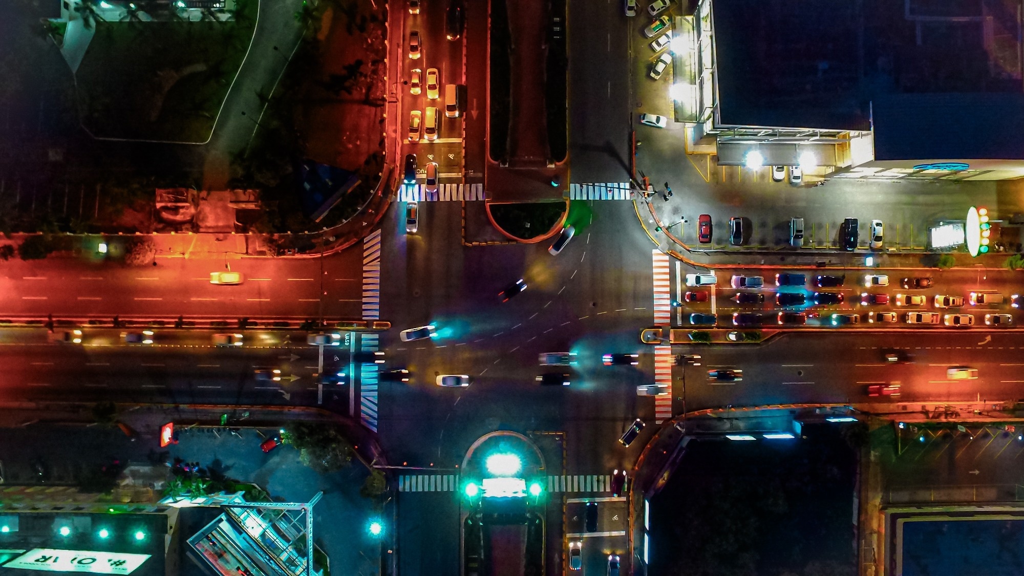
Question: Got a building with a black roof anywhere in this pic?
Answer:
Yes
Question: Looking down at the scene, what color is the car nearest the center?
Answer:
black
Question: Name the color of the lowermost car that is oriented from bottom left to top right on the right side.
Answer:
black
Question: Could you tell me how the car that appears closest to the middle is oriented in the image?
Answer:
diagonally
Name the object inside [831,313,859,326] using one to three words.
vehicle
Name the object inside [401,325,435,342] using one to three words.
car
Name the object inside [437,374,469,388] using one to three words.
car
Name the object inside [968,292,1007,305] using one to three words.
vehicle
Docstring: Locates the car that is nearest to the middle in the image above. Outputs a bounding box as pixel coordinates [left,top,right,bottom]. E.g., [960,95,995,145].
[498,279,527,302]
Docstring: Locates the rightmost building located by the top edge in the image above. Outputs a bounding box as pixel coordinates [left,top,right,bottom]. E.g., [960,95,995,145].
[820,0,1024,185]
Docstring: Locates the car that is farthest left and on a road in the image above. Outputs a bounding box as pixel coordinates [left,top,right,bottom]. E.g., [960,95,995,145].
[54,330,84,343]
